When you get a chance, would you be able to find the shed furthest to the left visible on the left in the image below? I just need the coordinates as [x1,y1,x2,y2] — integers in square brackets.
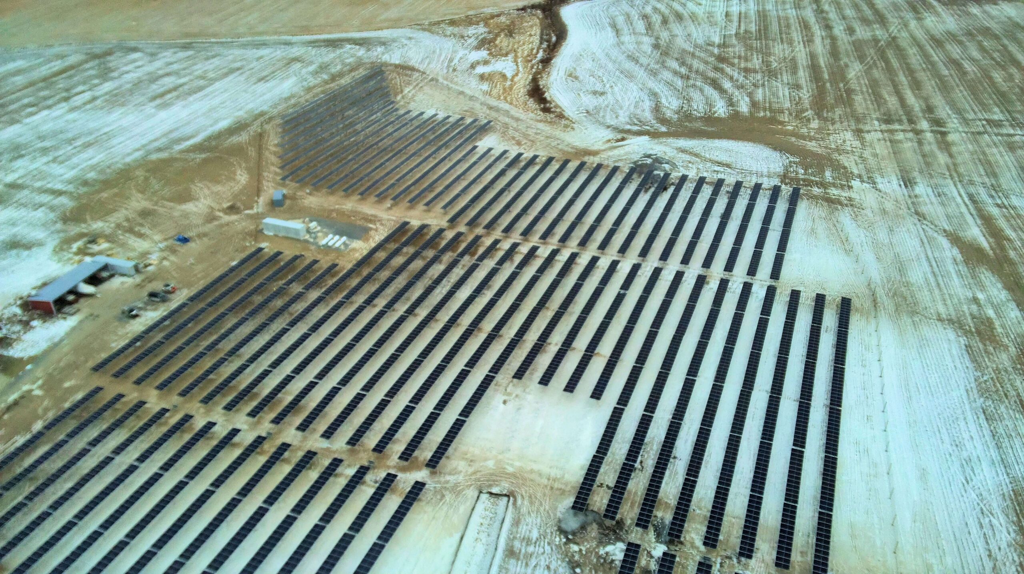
[27,262,112,314]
